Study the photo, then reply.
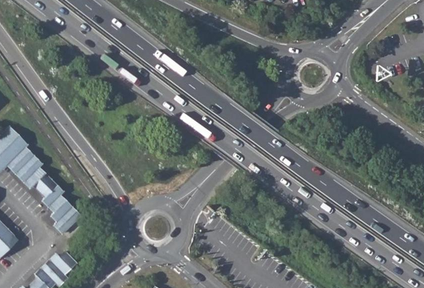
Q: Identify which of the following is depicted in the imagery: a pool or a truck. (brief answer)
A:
truck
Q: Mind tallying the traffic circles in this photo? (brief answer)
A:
2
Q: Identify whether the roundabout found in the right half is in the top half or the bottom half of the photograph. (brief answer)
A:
top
